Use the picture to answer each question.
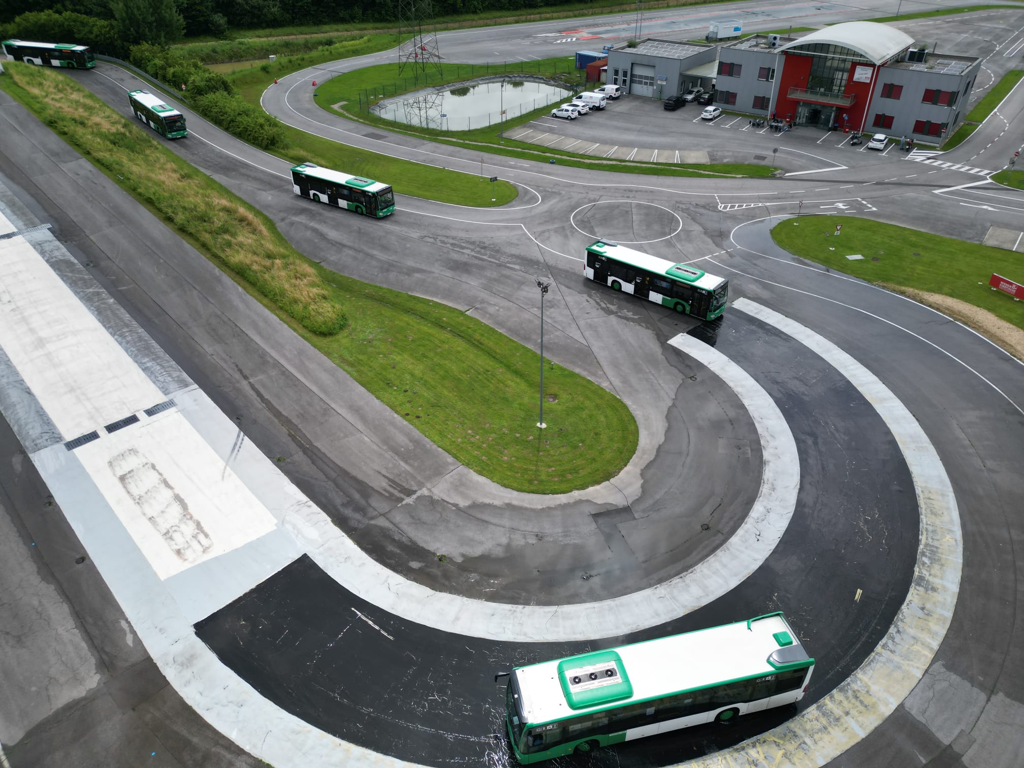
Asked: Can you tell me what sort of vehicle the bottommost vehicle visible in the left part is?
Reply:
bus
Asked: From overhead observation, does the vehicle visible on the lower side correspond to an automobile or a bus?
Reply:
bus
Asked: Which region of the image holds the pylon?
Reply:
top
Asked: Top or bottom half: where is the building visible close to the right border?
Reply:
top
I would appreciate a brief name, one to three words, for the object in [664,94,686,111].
car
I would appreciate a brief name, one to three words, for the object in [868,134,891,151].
car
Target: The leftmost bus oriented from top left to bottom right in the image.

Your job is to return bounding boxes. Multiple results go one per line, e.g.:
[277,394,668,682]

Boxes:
[130,91,188,138]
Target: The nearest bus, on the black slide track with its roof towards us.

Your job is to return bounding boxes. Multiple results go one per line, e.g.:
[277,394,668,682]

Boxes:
[499,611,814,762]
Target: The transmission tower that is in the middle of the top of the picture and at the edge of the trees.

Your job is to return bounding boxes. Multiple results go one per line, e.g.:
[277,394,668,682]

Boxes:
[399,0,443,81]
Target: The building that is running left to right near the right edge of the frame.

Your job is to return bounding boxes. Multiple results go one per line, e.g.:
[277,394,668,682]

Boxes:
[713,20,981,145]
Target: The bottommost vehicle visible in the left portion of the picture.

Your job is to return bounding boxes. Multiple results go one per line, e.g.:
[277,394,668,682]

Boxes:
[290,159,400,219]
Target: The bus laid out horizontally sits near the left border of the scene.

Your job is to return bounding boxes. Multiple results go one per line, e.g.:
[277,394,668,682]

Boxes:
[5,45,94,69]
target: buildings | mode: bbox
[607,37,713,96]
[713,20,981,145]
